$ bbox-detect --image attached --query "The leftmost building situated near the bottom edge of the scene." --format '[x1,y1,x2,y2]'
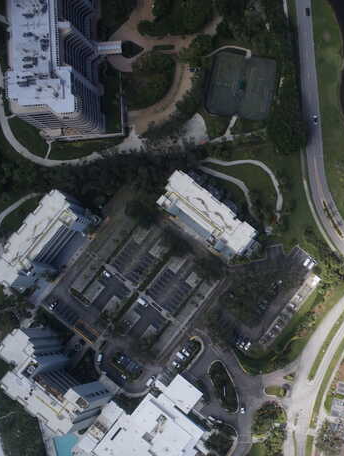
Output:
[0,323,115,435]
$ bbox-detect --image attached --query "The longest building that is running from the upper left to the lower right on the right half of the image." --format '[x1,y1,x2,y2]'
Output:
[155,169,266,253]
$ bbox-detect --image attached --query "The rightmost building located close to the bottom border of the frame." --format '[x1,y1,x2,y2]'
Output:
[77,371,209,456]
